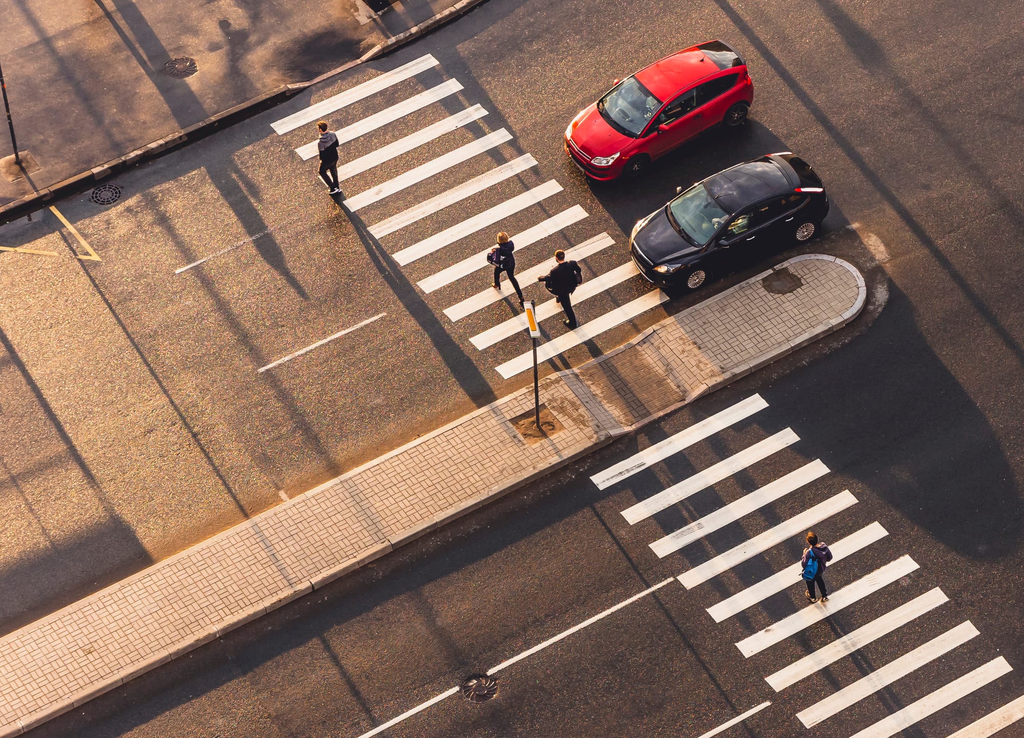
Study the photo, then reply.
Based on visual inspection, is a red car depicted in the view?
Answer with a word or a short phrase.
Yes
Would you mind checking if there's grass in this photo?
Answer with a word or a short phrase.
No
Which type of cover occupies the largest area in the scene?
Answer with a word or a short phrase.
paved ground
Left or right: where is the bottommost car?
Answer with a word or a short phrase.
right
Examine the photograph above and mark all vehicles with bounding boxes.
[621,155,832,293]
[563,42,759,177]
